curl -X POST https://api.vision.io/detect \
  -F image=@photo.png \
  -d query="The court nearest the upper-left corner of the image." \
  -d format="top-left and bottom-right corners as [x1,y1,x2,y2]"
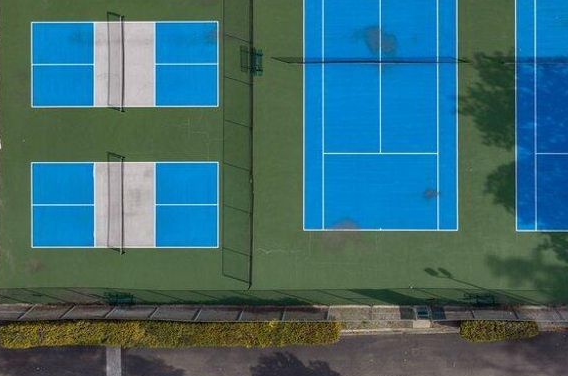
[32,21,218,107]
